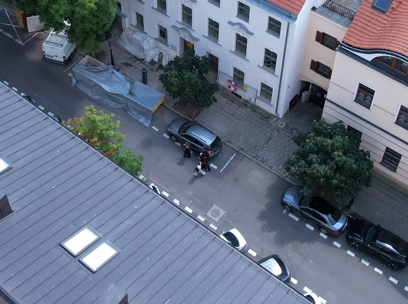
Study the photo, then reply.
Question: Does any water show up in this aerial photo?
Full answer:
No, water can't be seen anywhere here.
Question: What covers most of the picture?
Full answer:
The largest share of the image is taken up by buildings.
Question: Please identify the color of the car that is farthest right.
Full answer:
The car that is farthest right looks black in the image.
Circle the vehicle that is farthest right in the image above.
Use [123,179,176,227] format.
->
[345,218,408,275]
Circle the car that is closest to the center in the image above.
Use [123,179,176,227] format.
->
[168,116,226,159]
